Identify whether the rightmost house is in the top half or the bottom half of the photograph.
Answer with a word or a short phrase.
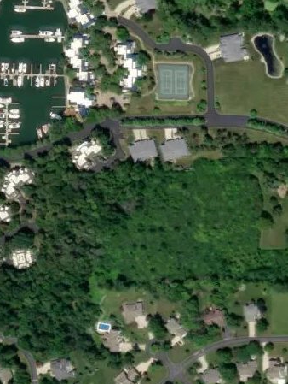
bottom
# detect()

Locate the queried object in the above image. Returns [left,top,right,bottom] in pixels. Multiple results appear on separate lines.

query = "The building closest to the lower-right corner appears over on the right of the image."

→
[266,361,286,384]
